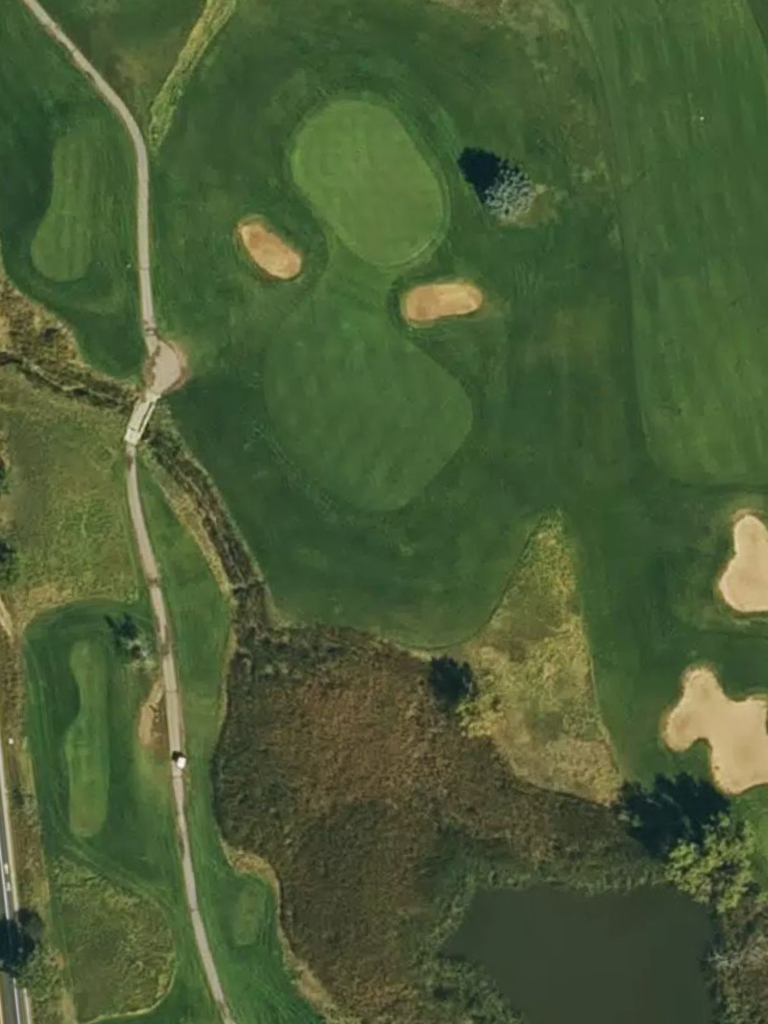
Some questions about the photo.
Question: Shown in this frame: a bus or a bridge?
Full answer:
Looking from above, you can make out a bridge.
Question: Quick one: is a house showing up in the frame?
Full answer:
No, there is no house in the image.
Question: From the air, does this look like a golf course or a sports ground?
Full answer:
What you see here is a golf course.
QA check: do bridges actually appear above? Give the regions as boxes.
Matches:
[124,390,161,445]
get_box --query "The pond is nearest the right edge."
[441,881,710,1024]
